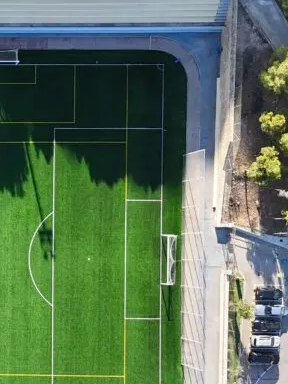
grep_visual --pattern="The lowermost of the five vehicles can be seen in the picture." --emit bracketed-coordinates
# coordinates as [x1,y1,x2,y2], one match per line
[248,351,278,365]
